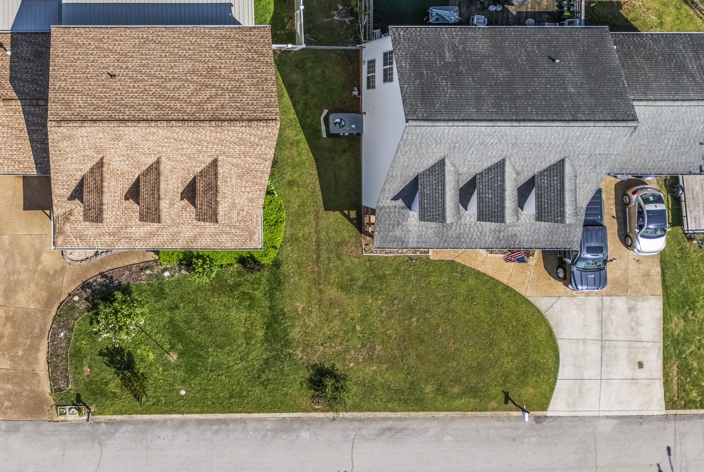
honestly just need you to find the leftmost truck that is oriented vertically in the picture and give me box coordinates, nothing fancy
[564,193,612,294]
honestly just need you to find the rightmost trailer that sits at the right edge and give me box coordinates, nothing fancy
[670,177,704,254]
